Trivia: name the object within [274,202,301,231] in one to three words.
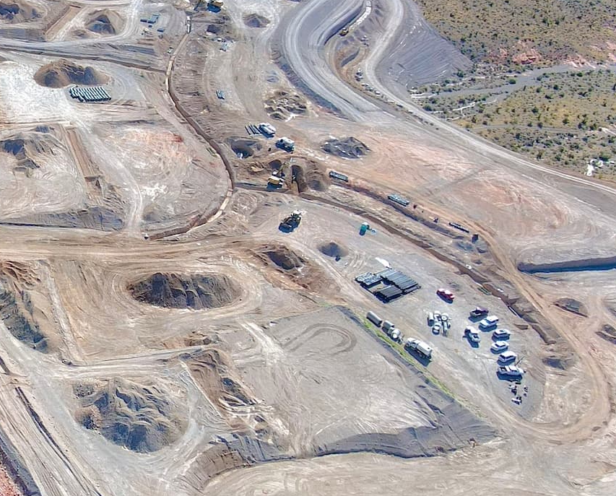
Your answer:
work vehicle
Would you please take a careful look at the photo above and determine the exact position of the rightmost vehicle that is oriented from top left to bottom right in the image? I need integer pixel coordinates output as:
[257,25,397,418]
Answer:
[463,327,484,345]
